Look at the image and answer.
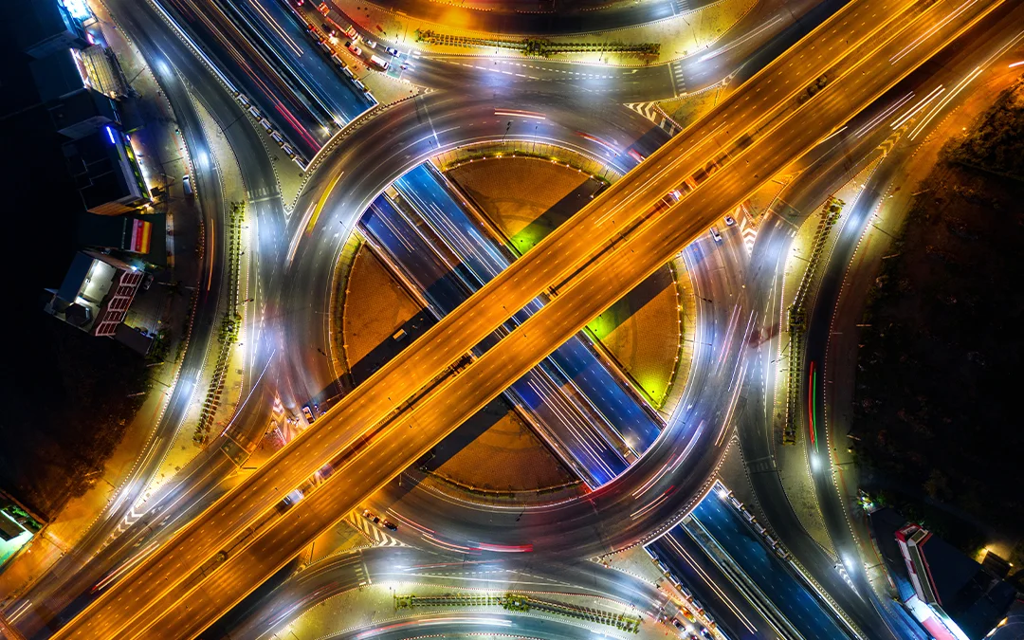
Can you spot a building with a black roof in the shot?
Yes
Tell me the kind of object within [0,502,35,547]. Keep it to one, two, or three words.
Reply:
house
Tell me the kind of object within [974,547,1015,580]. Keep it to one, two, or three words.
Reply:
shed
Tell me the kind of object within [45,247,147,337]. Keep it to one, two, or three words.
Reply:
house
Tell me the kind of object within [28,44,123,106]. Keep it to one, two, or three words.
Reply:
building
